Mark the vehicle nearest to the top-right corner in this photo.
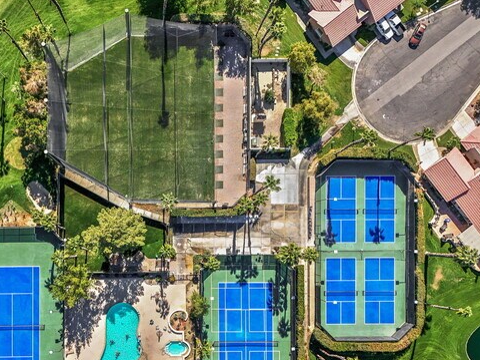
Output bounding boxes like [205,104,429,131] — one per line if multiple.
[410,22,429,48]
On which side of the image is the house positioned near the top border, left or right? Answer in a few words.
right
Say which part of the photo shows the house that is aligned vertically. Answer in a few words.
right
